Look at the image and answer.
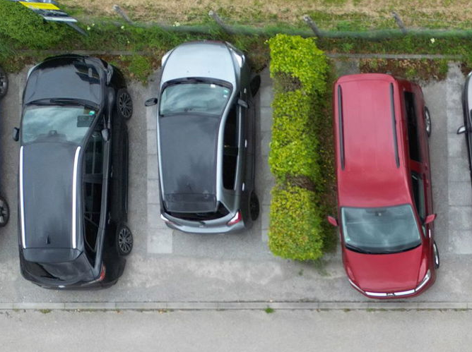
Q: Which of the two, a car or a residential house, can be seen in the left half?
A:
car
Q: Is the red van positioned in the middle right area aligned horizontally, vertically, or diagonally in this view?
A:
vertically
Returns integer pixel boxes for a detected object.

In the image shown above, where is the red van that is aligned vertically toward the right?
[322,75,438,302]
